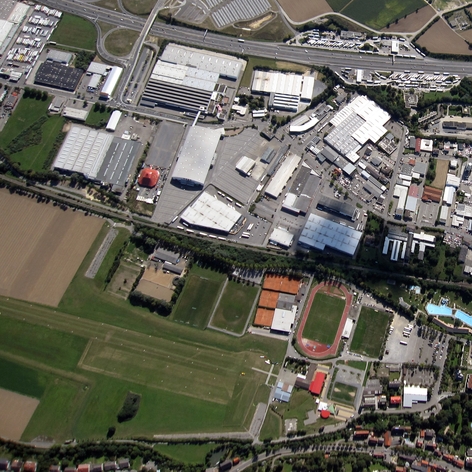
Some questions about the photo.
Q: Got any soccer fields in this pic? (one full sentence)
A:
Yes, you can see a soccer field in this photo.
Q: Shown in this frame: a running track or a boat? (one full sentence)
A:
It is a running track that can be seen here.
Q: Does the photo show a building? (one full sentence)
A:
Yes, there's a building here.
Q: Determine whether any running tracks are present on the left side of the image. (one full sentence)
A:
No, no running track can be made out on the left side of the image.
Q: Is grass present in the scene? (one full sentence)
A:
Yes, grass shows up in the scene.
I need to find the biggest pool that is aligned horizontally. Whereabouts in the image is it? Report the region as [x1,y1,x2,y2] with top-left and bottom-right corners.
[424,301,456,316]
